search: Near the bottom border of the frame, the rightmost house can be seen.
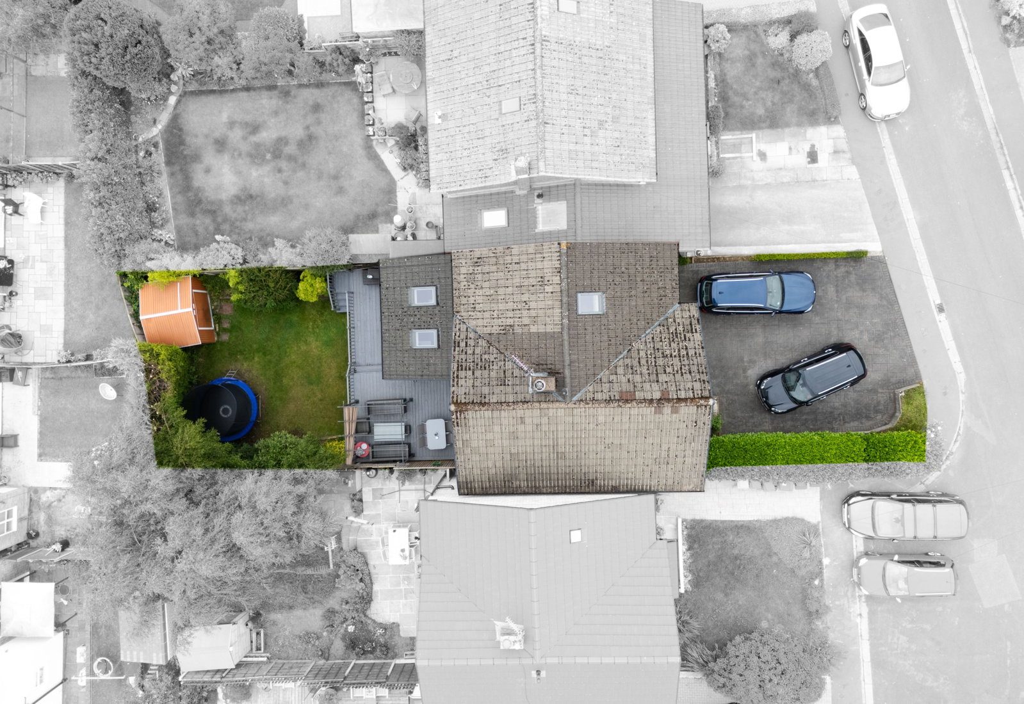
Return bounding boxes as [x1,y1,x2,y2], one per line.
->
[414,481,682,704]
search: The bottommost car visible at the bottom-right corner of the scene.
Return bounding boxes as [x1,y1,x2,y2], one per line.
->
[852,551,957,605]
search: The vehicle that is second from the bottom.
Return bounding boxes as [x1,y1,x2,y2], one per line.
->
[840,489,969,546]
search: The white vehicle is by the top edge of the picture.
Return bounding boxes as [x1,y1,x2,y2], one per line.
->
[841,2,913,123]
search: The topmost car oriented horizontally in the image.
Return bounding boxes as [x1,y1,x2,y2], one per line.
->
[697,265,815,320]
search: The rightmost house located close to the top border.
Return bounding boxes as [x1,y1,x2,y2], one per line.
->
[420,0,712,257]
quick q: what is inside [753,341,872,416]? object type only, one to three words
car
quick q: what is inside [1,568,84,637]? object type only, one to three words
gazebo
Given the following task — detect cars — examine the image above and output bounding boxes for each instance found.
[841,2,913,123]
[753,341,872,416]
[852,551,957,605]
[840,489,969,546]
[697,265,815,320]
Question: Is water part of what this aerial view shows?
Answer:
No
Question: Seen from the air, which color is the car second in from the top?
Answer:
blue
